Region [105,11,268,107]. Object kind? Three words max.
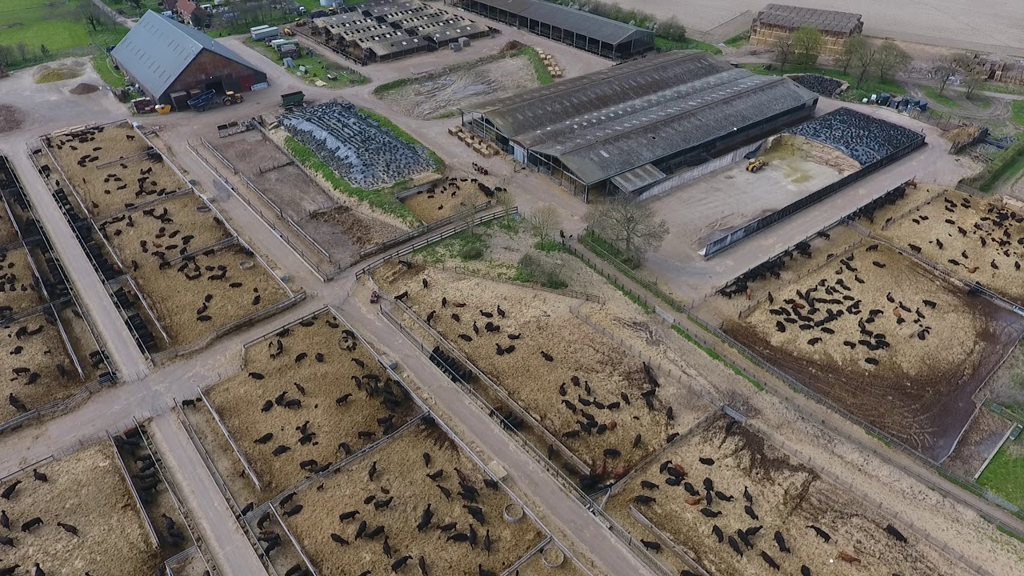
barn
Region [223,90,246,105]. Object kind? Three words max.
work vehicle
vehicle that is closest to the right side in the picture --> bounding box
[743,156,773,175]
